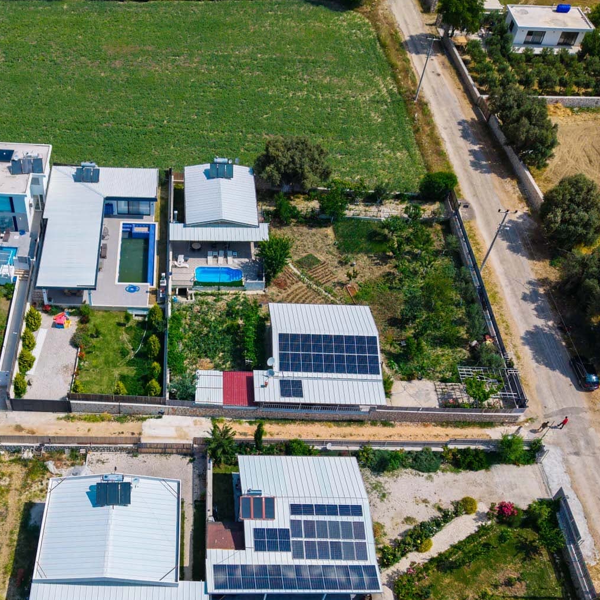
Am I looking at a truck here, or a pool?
pool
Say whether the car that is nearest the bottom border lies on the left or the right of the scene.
right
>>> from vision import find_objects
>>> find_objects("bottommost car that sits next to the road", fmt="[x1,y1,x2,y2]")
[565,357,600,393]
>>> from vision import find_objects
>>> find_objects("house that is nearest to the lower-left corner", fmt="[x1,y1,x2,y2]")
[29,472,208,600]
